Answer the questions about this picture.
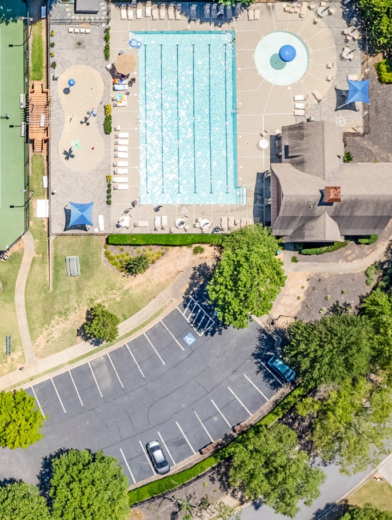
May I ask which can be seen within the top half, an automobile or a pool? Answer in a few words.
pool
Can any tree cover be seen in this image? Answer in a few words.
Yes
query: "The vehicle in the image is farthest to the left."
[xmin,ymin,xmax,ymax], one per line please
[146,439,171,475]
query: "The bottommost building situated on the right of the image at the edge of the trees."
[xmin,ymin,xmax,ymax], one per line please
[264,121,392,242]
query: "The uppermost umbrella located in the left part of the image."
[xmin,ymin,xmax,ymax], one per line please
[113,52,136,76]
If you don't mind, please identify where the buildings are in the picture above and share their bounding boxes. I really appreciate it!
[264,121,392,242]
[75,0,99,18]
